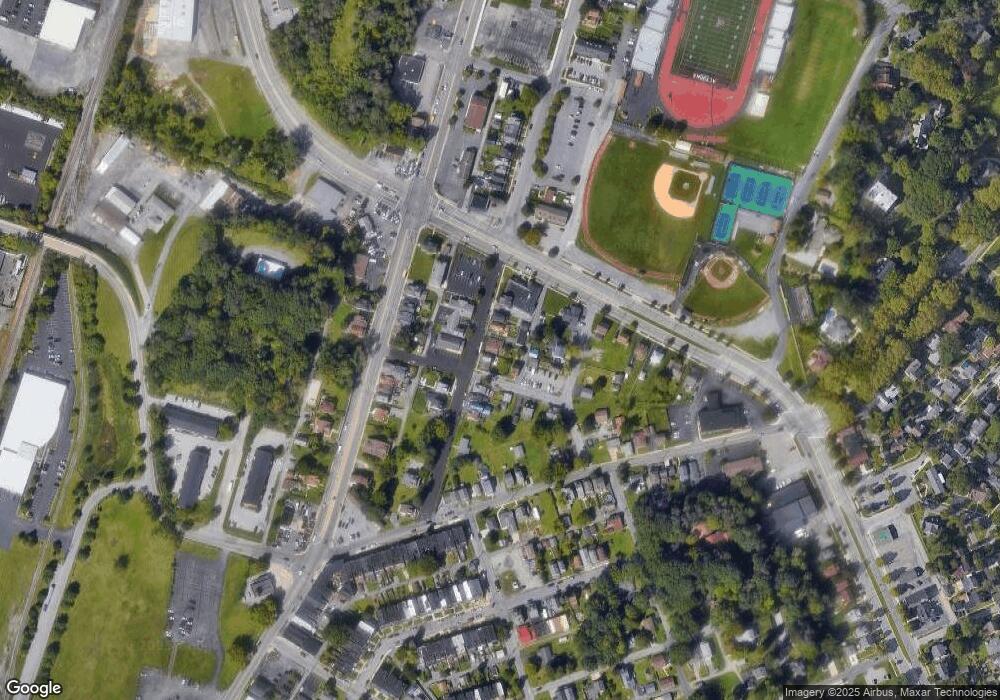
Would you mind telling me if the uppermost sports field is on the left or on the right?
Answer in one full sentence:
It is on the right.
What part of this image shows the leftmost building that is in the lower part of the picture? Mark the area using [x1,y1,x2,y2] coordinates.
[0,372,66,494]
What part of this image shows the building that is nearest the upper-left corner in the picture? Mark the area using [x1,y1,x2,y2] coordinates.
[39,0,95,49]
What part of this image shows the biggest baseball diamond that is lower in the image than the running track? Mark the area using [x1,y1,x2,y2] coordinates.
[582,129,728,279]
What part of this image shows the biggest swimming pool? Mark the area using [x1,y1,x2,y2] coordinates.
[256,257,285,279]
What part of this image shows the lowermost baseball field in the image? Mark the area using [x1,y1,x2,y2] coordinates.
[685,252,771,327]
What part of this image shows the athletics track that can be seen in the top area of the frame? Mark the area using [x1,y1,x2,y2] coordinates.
[660,0,771,129]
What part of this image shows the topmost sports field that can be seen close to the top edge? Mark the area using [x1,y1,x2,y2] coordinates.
[673,0,760,90]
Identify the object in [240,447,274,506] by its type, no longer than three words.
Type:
building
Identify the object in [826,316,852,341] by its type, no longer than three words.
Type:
house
